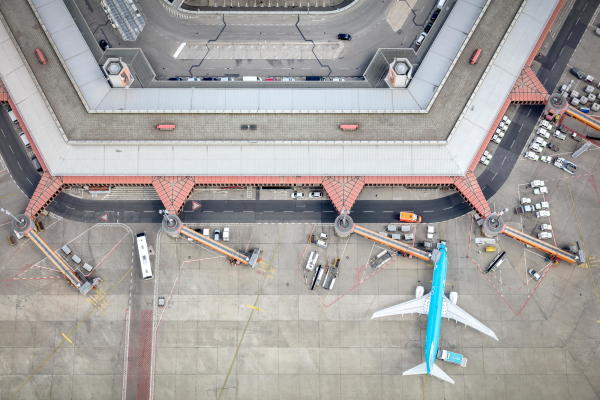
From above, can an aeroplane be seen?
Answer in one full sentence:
Yes, this view includes an aeroplane.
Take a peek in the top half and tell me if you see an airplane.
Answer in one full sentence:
No, I can find no airplane in the top half.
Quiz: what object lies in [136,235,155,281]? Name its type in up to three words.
vehicle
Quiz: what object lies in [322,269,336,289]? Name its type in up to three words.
work vehicle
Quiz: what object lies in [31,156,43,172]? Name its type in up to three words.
vehicle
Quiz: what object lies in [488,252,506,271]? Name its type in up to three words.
work vehicle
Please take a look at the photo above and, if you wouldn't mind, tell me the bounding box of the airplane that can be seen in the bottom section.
[371,242,499,384]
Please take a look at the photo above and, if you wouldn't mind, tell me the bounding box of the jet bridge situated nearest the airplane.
[334,214,441,264]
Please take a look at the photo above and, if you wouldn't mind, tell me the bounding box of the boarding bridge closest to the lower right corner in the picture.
[479,213,585,266]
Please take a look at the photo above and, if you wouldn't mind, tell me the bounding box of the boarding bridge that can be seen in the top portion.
[541,92,600,133]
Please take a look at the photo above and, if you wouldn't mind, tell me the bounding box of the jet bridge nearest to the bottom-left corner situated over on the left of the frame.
[12,214,96,296]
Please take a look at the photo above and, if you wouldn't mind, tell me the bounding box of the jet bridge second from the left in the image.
[162,213,261,269]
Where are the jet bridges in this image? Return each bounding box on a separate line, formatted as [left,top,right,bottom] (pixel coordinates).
[479,213,585,266]
[334,214,441,264]
[12,214,96,296]
[541,92,600,133]
[162,213,261,269]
